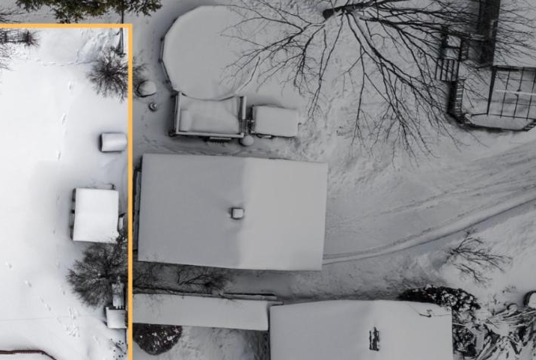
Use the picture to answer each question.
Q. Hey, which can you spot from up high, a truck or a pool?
pool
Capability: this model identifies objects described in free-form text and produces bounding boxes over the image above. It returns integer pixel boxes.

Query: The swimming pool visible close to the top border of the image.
[157,4,256,101]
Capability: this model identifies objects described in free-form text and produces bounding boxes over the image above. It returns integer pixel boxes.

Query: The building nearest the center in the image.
[135,153,328,271]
